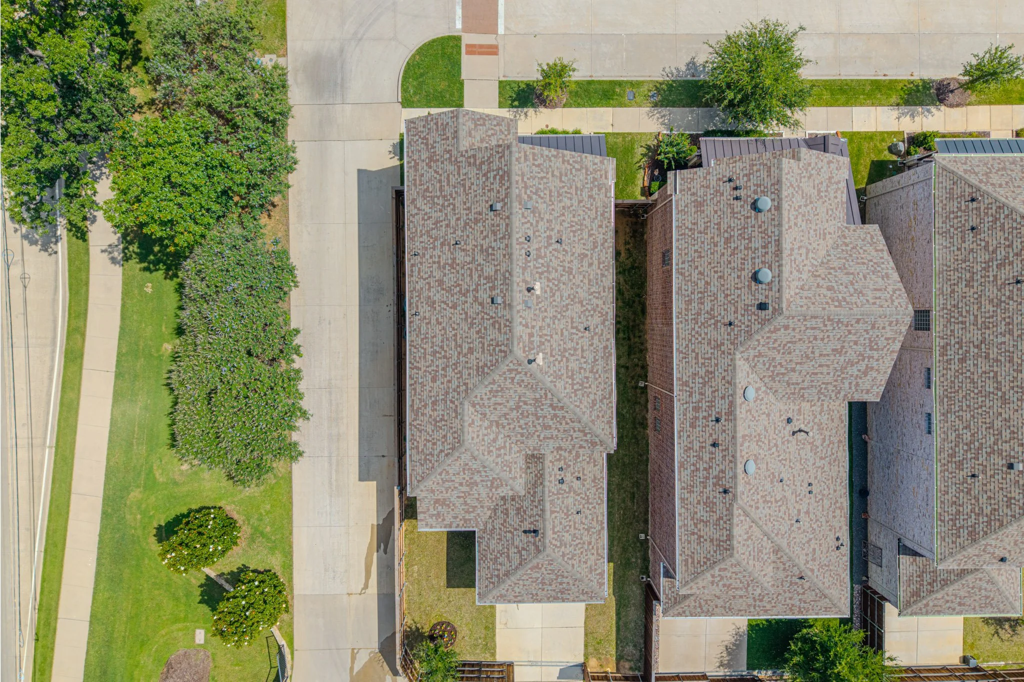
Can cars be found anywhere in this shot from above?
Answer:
No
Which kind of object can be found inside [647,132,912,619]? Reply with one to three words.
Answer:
house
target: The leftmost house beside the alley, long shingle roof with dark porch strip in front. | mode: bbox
[404,109,618,606]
